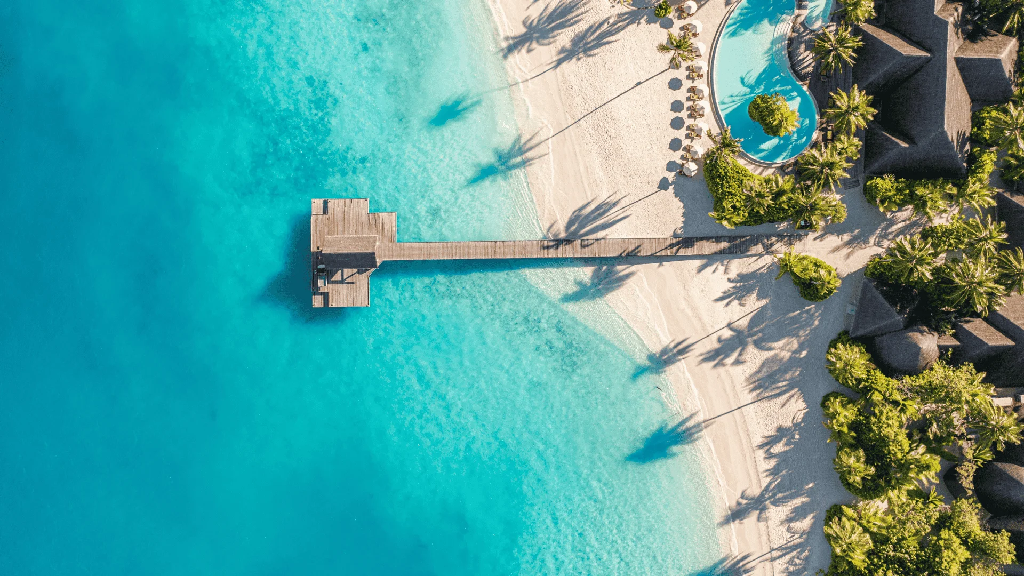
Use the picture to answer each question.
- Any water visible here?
Yes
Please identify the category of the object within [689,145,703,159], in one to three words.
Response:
umbrella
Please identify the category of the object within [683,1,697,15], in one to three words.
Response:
umbrella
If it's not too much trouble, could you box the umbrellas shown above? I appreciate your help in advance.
[694,123,707,136]
[689,145,703,159]
[696,101,709,115]
[683,163,696,177]
[683,1,697,15]
[695,84,709,98]
[694,61,707,75]
[691,42,705,56]
[689,21,702,34]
